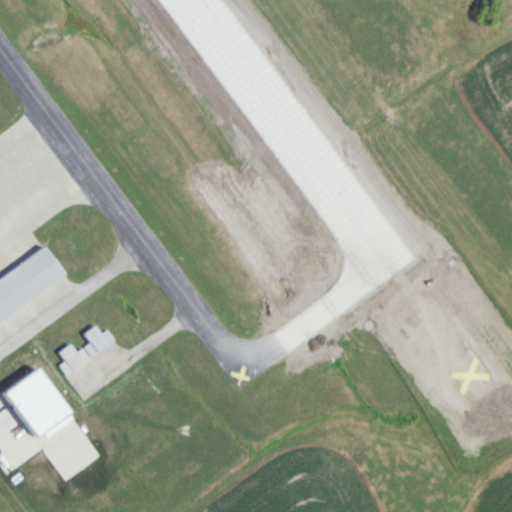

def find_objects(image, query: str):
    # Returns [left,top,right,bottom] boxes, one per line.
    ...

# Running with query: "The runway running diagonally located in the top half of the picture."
[157,0,416,352]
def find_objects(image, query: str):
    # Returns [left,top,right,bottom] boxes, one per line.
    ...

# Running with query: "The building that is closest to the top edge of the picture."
[0,247,67,325]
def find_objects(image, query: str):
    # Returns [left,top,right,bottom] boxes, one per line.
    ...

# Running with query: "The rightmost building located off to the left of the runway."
[84,326,114,357]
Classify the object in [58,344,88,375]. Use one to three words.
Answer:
hangar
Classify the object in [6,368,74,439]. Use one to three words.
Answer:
hangar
